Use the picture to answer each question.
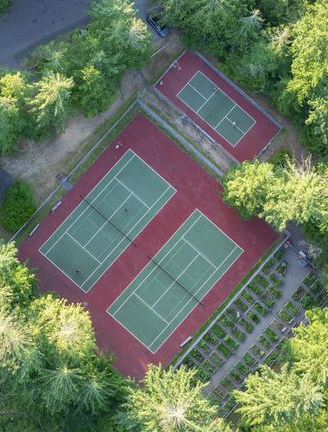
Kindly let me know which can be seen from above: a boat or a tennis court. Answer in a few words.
tennis court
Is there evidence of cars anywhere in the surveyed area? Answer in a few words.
Yes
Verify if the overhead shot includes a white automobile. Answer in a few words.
No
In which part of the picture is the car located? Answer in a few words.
top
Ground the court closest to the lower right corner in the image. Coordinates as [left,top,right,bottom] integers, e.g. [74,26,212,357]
[86,173,281,376]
